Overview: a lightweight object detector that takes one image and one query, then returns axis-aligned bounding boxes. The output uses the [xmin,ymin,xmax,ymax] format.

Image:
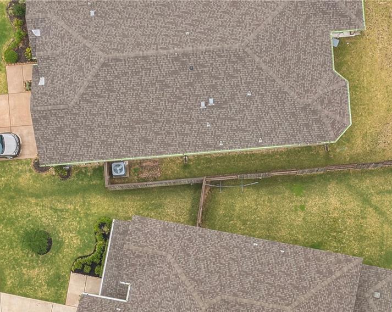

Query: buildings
[77,216,392,312]
[25,0,367,168]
